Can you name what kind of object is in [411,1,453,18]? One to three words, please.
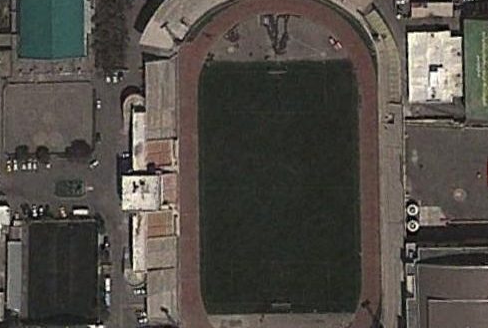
building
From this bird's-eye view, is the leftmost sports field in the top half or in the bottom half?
bottom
